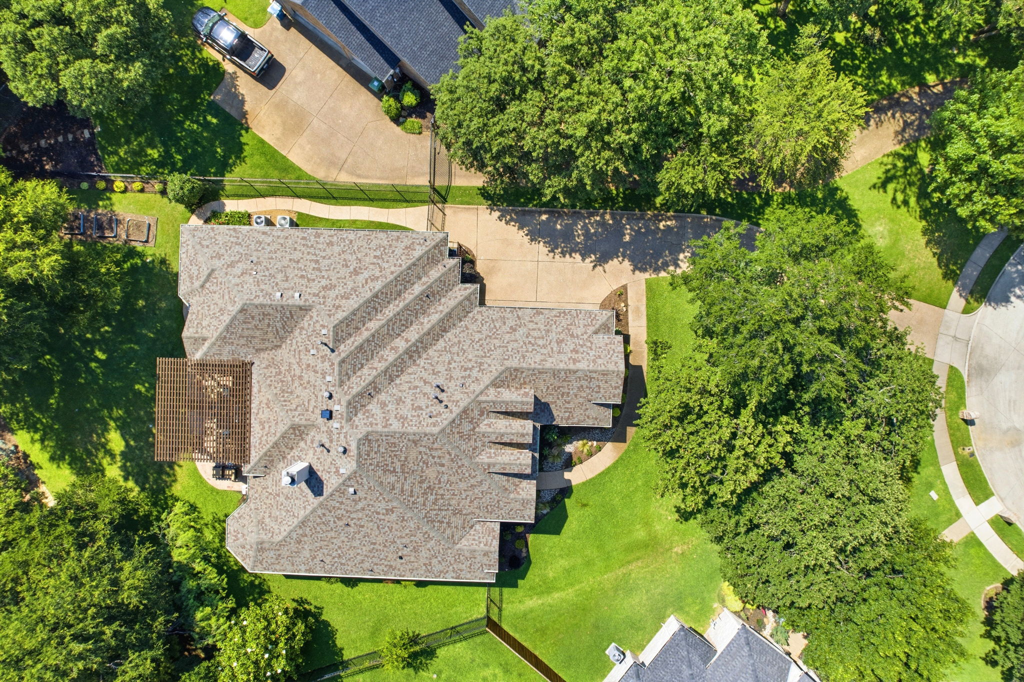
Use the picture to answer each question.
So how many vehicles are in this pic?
1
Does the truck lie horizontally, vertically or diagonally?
diagonally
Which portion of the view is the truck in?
top left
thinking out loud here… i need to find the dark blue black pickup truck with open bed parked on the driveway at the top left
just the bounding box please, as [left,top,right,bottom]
[191,4,279,82]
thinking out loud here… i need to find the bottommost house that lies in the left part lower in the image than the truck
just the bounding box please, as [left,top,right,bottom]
[177,223,625,583]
